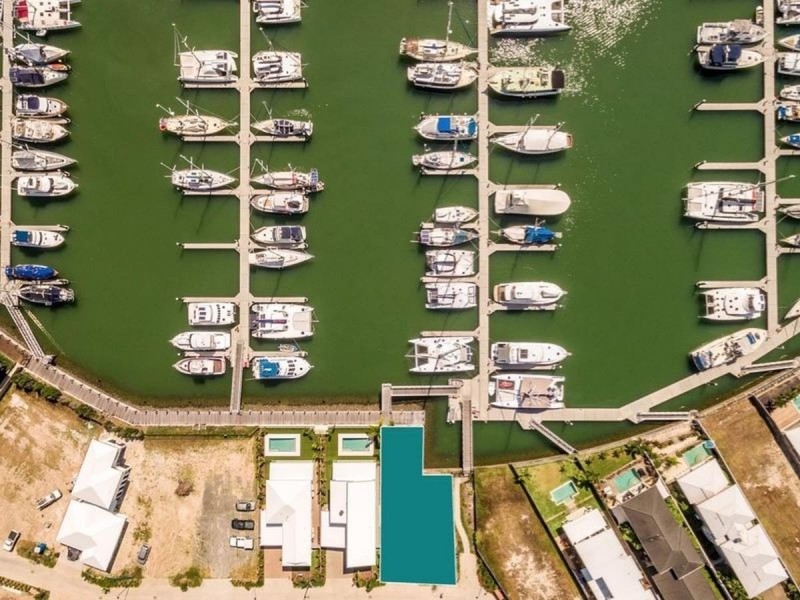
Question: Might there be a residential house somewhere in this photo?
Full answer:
Yes, a residential house is visible in the scene.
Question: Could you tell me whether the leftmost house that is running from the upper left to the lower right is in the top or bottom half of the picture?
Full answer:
The leftmost house that is running from the upper left to the lower right sits in the bottom half of the picture.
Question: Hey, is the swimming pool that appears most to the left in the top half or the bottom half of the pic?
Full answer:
It is in the bottom half that the swimming pool that appears most to the left appears.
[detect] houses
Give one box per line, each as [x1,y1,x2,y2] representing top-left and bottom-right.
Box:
[321,459,377,569]
[260,460,314,567]
[775,416,800,470]
[562,506,657,600]
[673,457,789,599]
[611,479,732,600]
[56,438,135,573]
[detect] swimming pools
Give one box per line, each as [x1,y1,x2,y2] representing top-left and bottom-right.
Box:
[265,434,301,456]
[549,480,579,505]
[611,466,643,495]
[338,434,374,456]
[682,441,714,466]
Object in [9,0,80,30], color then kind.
white boat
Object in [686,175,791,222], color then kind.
white boat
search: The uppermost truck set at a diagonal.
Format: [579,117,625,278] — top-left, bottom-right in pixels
[31,488,64,512]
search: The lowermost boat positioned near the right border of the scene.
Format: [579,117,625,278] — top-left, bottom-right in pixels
[688,323,772,377]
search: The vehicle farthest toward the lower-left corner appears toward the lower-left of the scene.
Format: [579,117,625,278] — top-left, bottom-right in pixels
[3,528,22,552]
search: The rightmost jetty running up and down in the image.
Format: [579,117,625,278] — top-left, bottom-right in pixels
[695,0,800,331]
